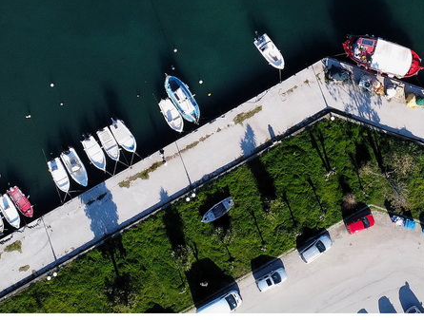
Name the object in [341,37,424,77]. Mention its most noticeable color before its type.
white boat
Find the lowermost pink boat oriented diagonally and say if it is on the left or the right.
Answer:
left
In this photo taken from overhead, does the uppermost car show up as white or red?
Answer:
red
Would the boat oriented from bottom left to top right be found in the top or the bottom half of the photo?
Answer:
bottom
